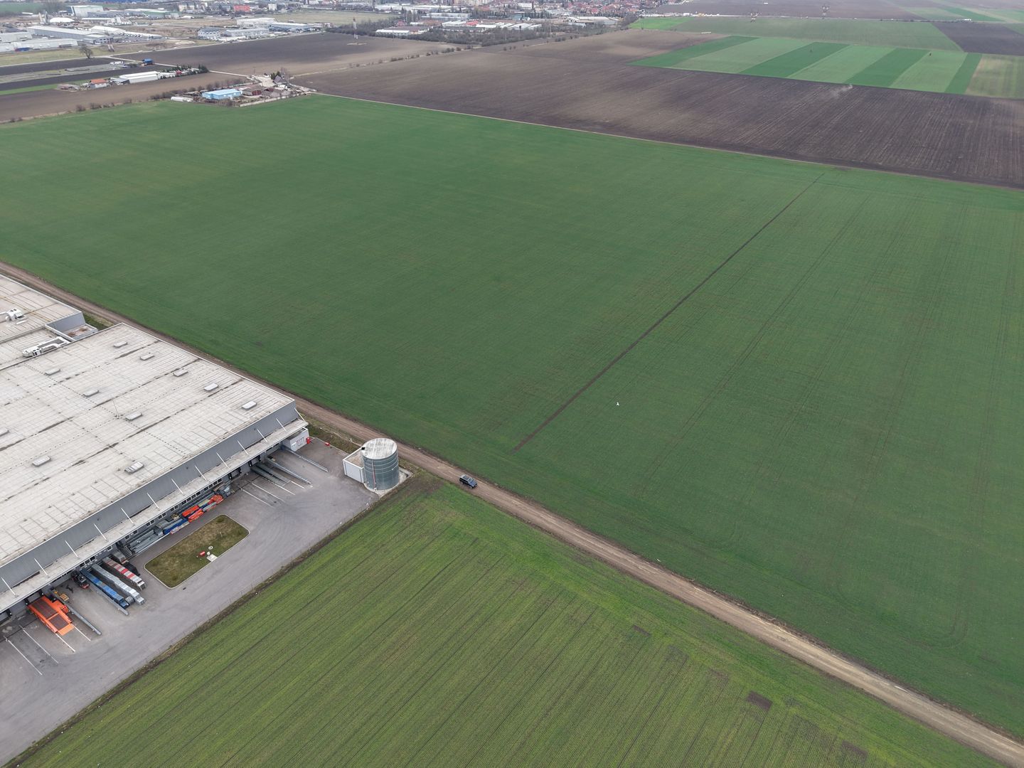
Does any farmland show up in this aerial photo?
Yes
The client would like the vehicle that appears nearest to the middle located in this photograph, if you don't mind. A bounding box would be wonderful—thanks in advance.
[456,474,475,488]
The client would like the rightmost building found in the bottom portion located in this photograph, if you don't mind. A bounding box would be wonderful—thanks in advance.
[343,447,365,483]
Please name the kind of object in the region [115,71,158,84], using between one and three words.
barn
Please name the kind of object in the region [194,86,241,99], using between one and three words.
shed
